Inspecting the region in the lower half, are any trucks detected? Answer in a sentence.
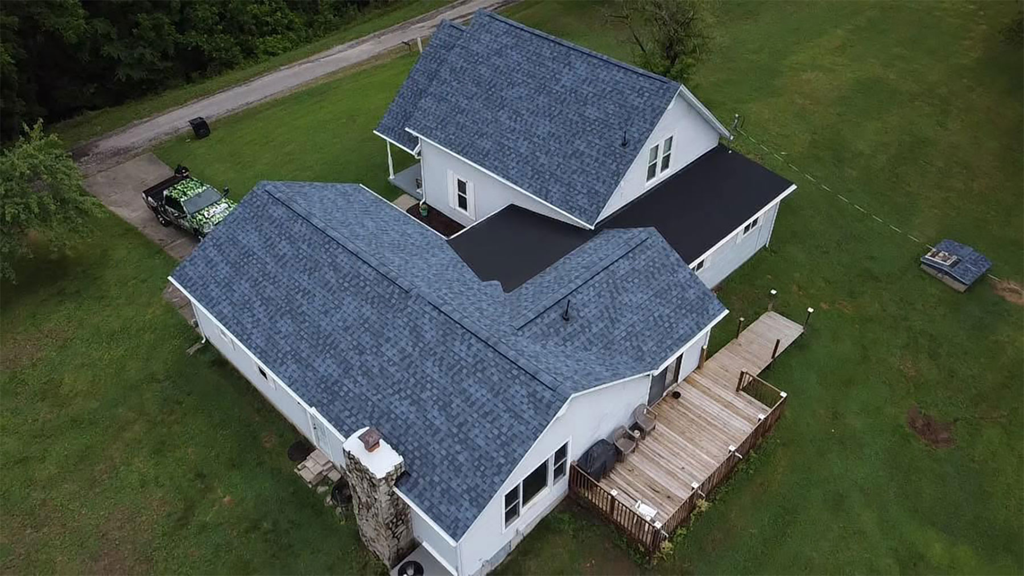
No, I can find no truck in the lower half.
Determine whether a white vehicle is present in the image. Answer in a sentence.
No, no white vehicle is visible in the scene.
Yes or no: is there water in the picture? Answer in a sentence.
No, there is no water in the image.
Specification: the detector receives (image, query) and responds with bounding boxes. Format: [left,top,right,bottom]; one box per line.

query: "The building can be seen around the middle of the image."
[164,8,800,576]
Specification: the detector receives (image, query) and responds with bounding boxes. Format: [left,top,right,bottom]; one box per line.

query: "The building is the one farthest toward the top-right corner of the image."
[914,241,995,294]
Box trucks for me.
[139,178,233,244]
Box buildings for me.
[914,241,995,294]
[164,8,800,576]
